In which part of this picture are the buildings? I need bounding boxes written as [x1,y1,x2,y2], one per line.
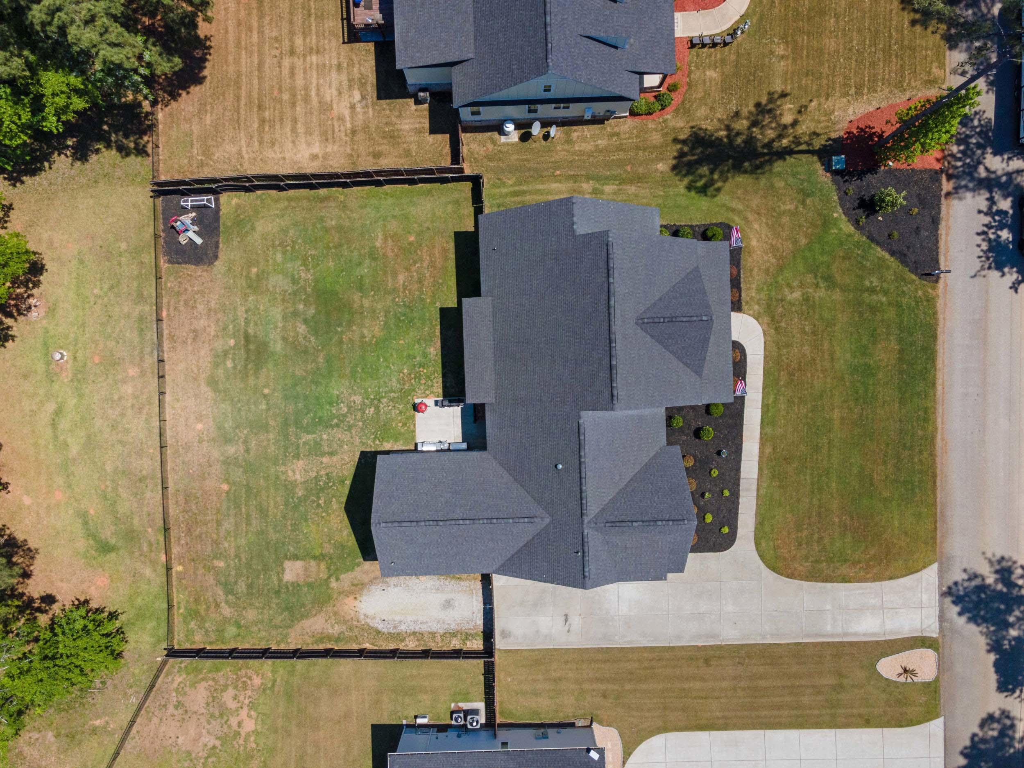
[372,196,735,590]
[385,724,608,768]
[393,0,676,125]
